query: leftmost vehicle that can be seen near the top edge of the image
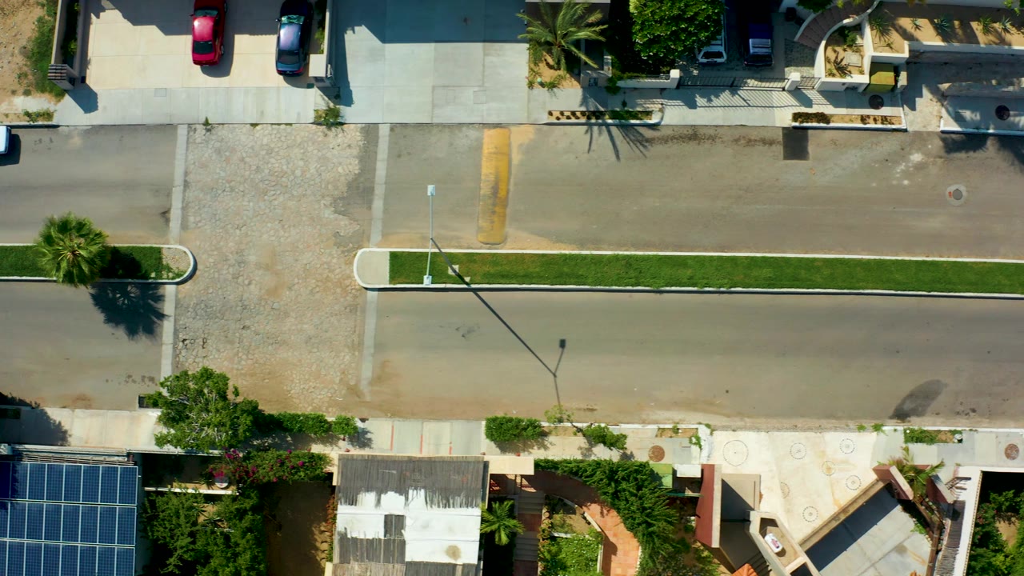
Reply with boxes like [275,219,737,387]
[190,0,230,67]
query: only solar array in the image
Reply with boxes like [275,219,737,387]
[0,461,140,576]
